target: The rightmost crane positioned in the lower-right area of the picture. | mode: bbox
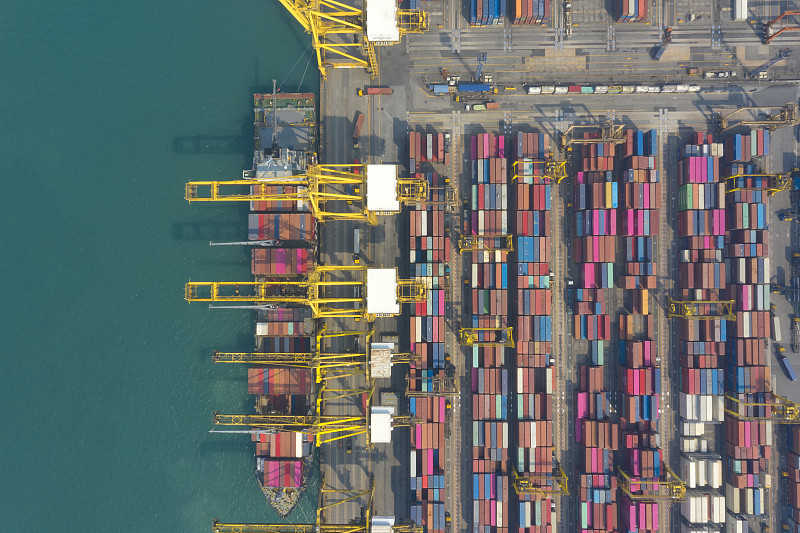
[723,394,795,420]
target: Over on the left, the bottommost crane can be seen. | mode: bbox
[209,474,421,533]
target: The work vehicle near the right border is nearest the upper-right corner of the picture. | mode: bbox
[743,45,800,82]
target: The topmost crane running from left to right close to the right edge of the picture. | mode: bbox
[714,106,799,140]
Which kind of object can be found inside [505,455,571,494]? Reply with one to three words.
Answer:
crane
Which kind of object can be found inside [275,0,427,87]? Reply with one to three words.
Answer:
container crane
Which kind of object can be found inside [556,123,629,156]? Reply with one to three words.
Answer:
crane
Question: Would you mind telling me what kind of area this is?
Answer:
port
